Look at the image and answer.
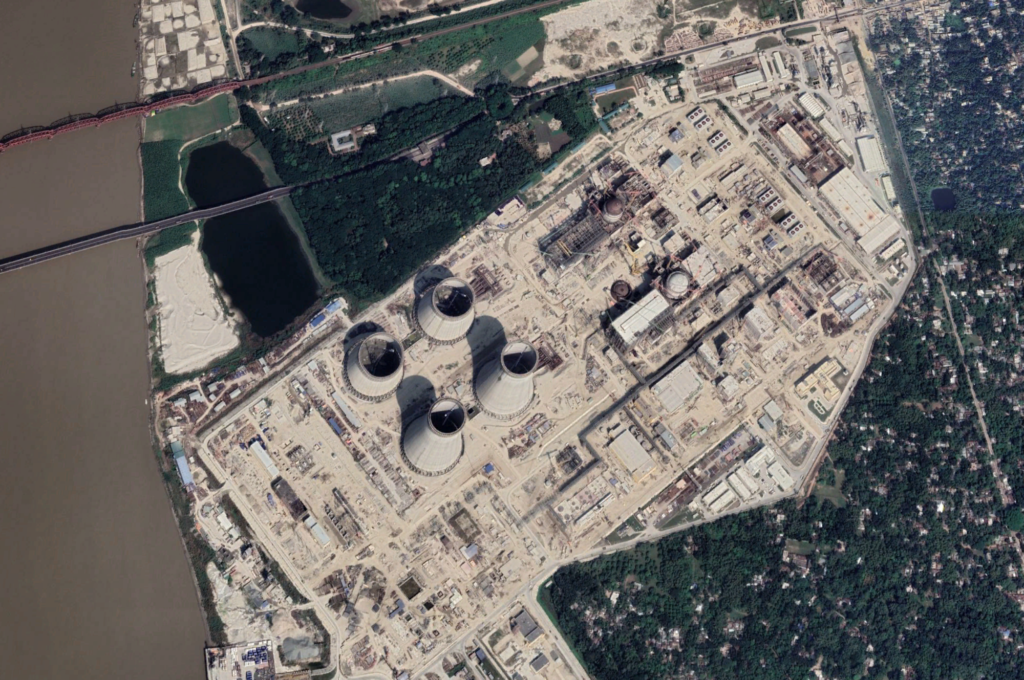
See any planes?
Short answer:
No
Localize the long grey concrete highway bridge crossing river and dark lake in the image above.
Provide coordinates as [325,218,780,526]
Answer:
[0,184,292,272]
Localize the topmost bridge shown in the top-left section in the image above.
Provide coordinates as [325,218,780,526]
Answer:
[0,81,242,151]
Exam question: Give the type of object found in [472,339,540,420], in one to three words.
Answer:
cooling tower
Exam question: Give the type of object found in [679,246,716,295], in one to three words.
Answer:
building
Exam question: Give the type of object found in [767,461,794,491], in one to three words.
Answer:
building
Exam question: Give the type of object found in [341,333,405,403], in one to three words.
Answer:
cooling tower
